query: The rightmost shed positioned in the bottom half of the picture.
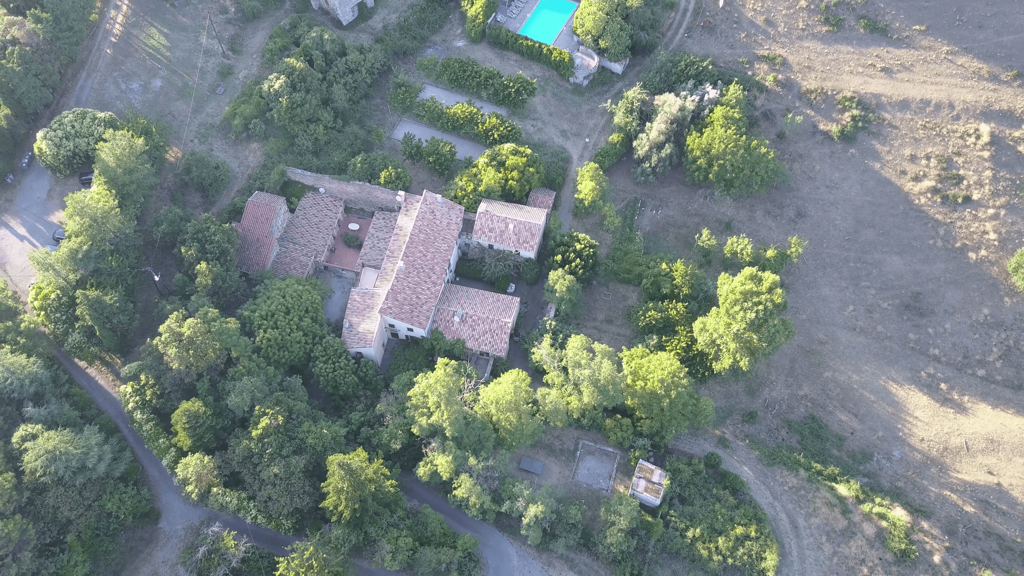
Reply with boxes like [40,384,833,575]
[630,461,667,504]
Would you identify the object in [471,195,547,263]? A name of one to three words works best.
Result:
house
